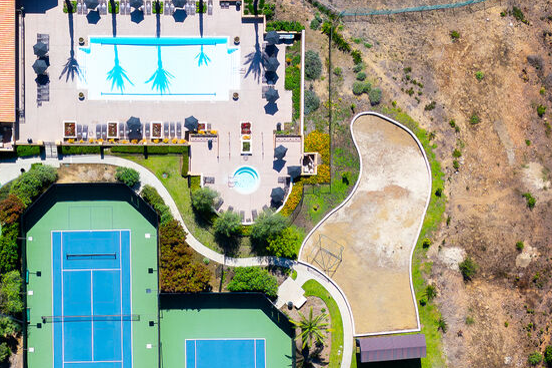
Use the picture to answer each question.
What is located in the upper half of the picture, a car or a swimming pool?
swimming pool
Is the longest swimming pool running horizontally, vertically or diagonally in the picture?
horizontally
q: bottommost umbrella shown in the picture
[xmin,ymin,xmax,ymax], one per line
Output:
[271,188,285,201]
